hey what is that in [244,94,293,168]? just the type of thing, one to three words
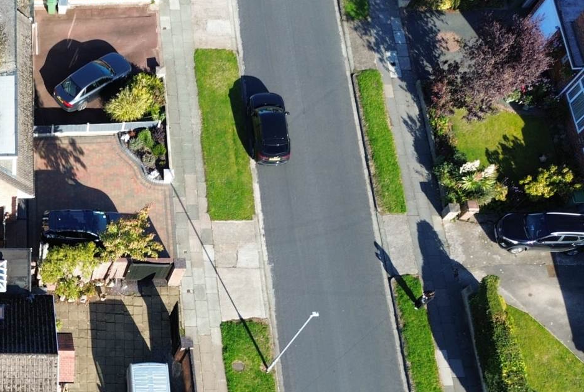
car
